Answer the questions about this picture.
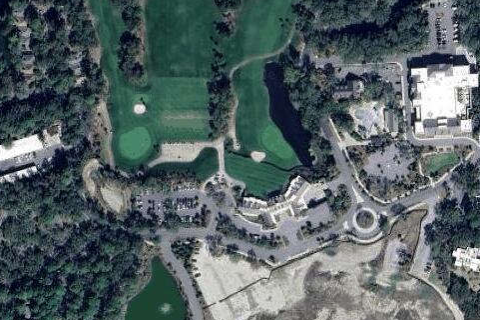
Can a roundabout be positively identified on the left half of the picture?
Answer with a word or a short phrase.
No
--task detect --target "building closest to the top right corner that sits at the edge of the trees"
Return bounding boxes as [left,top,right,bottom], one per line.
[412,64,480,136]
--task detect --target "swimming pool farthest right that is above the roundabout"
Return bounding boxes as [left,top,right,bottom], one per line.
[351,100,385,141]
